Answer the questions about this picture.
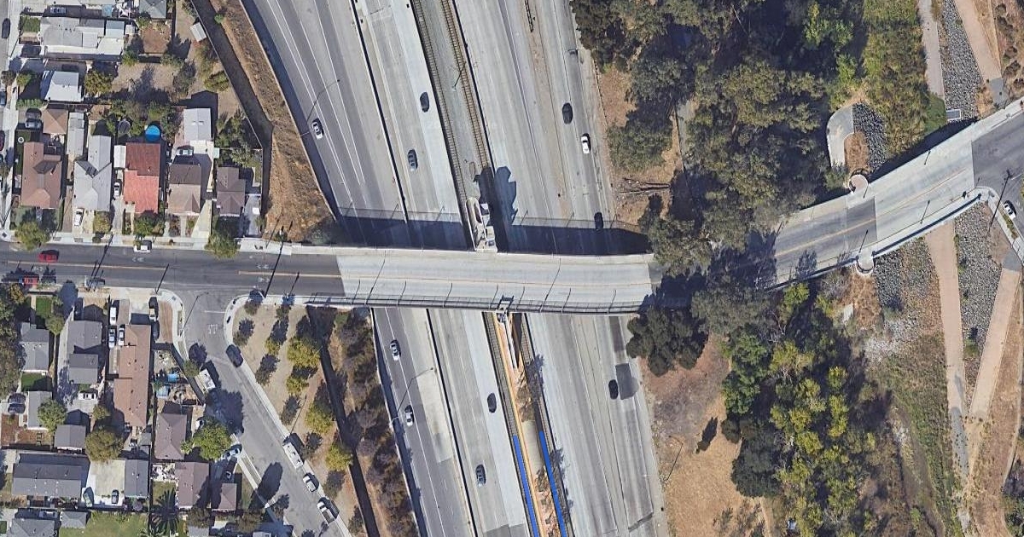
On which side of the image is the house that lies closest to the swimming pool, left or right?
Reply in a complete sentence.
The house that lies closest to the swimming pool is on the left side of the image.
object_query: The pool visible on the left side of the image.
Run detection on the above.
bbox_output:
[144,124,162,142]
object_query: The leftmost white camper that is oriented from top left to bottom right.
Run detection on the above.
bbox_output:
[197,368,217,393]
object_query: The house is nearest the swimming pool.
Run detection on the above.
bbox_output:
[124,142,160,213]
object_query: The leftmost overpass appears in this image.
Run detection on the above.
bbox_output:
[292,245,655,315]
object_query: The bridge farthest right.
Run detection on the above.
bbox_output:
[748,122,983,297]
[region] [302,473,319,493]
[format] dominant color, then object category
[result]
white car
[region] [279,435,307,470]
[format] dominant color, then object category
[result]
white camper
